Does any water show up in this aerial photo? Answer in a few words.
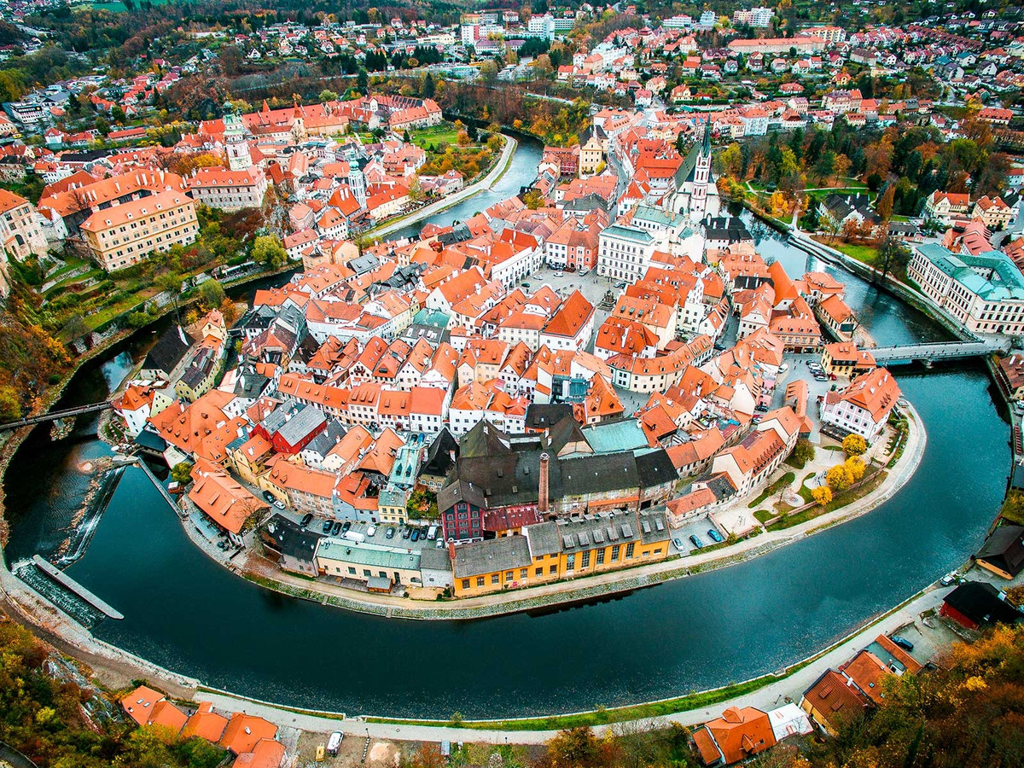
Yes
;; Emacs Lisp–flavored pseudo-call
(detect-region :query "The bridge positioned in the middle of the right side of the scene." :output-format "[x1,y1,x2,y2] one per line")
[858,338,996,366]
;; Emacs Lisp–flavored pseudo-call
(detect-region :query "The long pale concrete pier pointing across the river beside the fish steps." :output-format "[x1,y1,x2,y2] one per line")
[32,555,125,621]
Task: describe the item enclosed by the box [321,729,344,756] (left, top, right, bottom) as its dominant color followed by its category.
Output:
white vehicle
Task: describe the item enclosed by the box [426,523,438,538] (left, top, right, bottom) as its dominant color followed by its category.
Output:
white vehicle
